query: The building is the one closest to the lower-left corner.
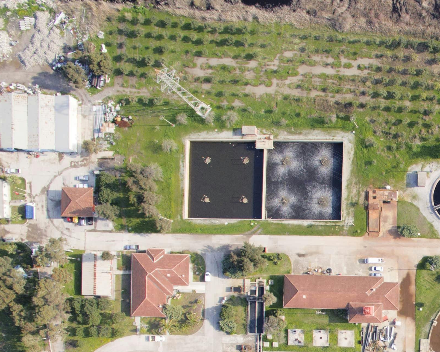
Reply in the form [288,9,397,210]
[81,252,117,300]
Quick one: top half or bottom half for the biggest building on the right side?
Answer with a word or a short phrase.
bottom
